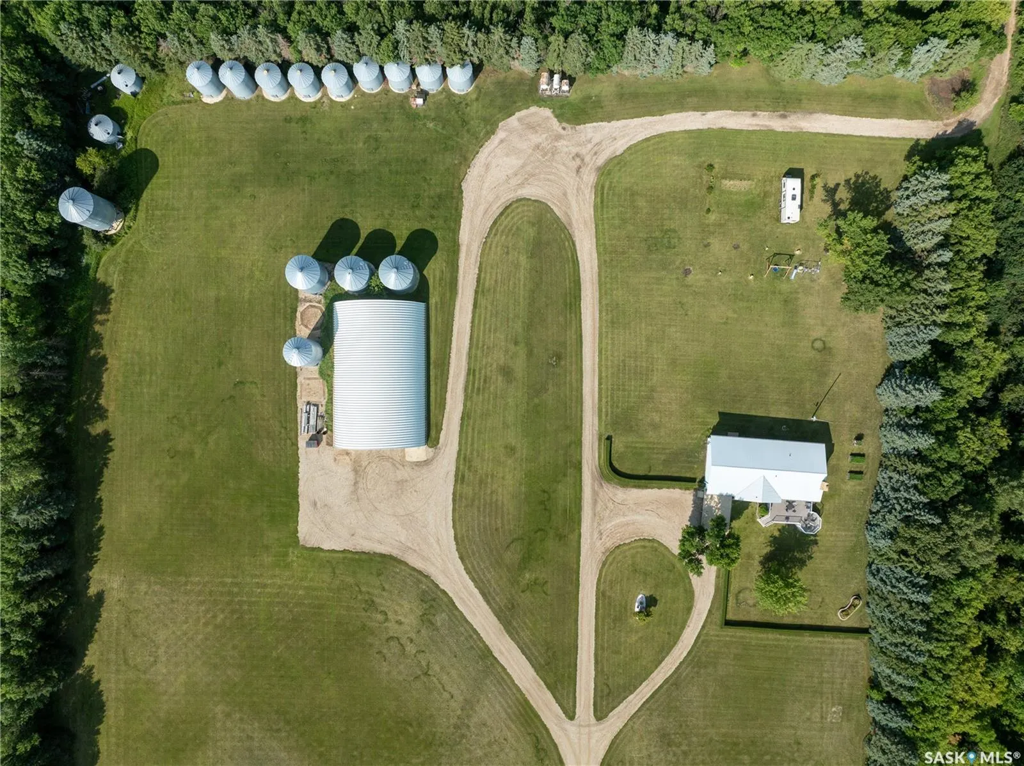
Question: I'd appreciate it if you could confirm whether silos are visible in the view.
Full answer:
Yes, there is a silo in the image.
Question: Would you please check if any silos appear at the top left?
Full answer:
Yes, at the top left there is a silo.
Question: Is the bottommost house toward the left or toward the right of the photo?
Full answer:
The bottommost house sits on the right side.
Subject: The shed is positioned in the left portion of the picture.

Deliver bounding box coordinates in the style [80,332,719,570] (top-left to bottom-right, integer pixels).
[333,299,426,449]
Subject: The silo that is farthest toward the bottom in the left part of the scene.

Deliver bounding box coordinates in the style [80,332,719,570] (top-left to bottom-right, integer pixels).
[283,336,322,367]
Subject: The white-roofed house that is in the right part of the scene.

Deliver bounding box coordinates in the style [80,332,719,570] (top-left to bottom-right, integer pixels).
[704,435,827,503]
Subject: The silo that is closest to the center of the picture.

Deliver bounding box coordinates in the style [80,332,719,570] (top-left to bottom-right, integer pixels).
[378,256,417,294]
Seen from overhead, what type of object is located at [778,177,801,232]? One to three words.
trailer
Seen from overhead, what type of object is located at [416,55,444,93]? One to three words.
silo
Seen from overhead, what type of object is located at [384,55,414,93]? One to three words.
silo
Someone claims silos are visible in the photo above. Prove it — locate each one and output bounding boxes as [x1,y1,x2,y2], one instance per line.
[111,63,146,96]
[58,187,127,235]
[384,55,414,93]
[219,60,256,99]
[285,255,333,295]
[416,55,444,93]
[88,115,123,146]
[288,62,321,100]
[378,256,417,294]
[255,62,289,100]
[321,62,353,100]
[186,60,225,99]
[334,256,375,295]
[446,55,473,93]
[353,55,384,93]
[283,336,322,367]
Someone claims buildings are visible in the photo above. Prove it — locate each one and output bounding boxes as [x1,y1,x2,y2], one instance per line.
[333,299,426,449]
[704,435,827,503]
